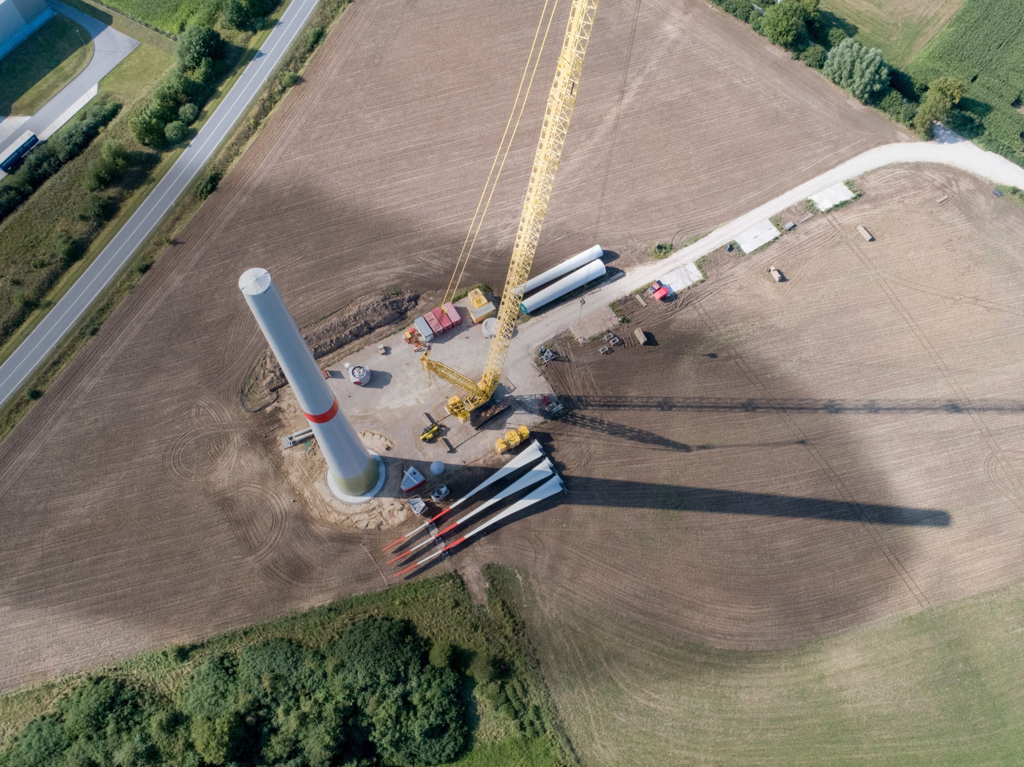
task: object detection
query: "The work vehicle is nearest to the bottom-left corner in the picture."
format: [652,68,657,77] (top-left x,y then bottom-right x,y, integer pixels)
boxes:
[420,418,451,442]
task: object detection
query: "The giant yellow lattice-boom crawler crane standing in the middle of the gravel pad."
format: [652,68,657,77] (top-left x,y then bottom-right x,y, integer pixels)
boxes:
[416,0,626,434]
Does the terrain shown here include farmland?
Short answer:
Yes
